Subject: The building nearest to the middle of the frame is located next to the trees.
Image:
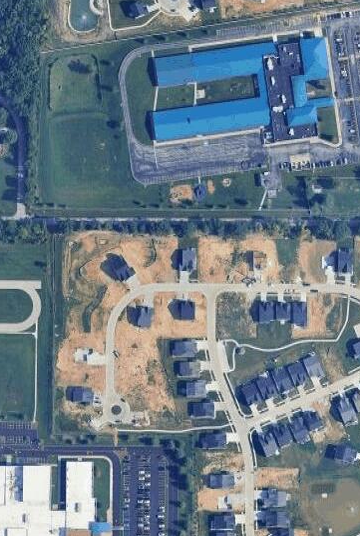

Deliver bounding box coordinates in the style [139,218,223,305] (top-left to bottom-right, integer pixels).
[180,243,196,270]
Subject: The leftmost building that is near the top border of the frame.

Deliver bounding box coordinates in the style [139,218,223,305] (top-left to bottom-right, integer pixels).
[118,0,148,19]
